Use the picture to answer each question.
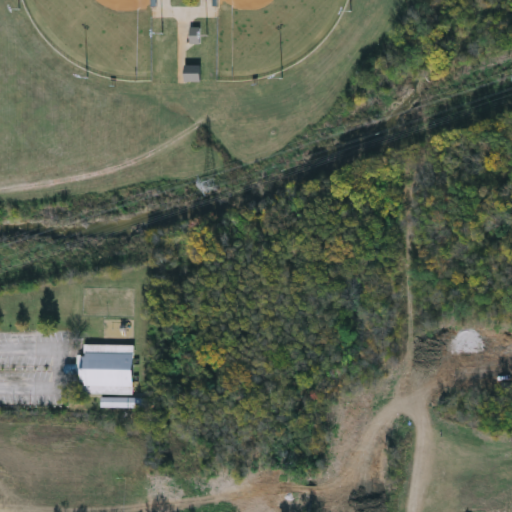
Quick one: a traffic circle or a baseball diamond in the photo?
baseball diamond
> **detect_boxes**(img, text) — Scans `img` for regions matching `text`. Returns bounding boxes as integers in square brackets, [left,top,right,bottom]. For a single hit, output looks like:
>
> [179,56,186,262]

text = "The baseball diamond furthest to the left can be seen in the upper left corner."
[22,0,152,82]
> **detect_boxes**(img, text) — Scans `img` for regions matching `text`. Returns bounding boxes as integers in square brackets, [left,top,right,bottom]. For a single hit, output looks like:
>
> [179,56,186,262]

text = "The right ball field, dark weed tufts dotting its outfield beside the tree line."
[218,0,348,82]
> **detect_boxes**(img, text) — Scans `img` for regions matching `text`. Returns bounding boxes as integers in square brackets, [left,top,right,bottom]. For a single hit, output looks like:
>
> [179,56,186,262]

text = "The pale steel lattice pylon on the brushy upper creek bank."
[196,174,222,196]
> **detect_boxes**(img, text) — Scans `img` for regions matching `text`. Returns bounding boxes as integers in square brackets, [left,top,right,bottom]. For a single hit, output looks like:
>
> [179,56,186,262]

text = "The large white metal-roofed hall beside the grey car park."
[77,345,136,396]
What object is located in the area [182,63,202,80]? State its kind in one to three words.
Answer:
building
